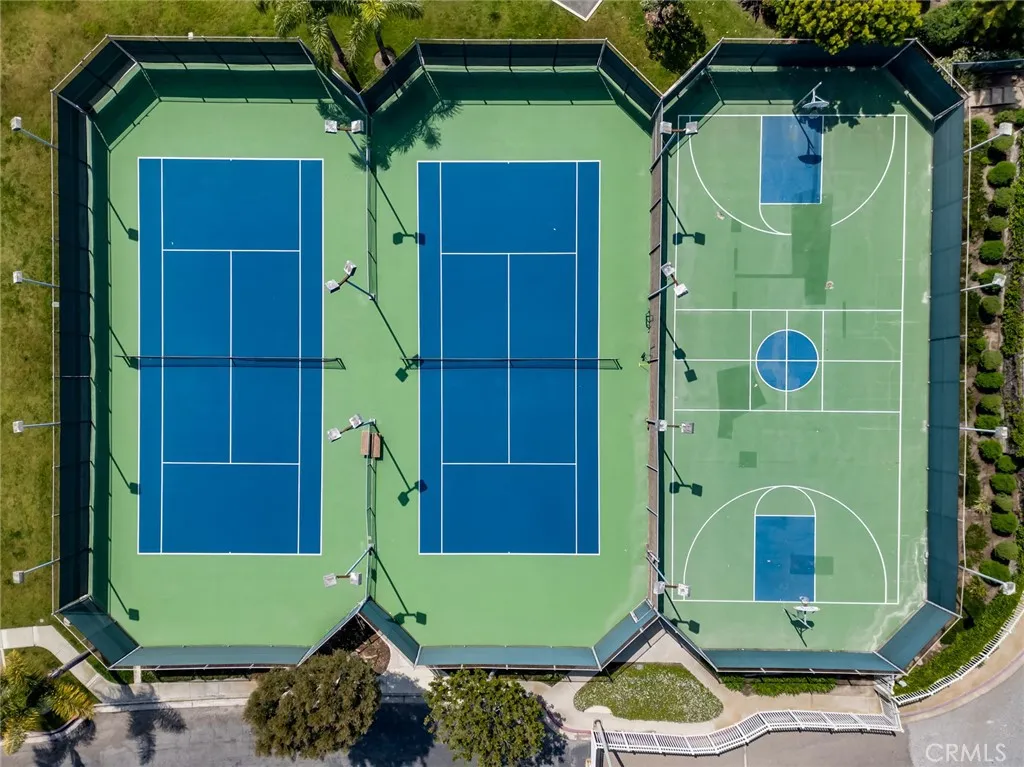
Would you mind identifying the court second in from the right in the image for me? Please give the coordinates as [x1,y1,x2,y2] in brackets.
[371,61,650,645]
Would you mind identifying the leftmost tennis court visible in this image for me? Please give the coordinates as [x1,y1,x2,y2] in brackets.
[84,59,371,650]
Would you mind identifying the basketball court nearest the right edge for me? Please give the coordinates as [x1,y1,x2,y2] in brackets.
[647,58,935,654]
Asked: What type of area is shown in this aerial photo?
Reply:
sports ground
